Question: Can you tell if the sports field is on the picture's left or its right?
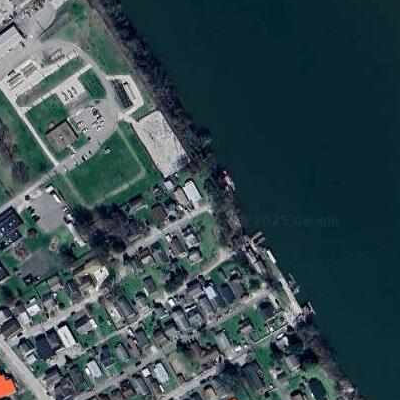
left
